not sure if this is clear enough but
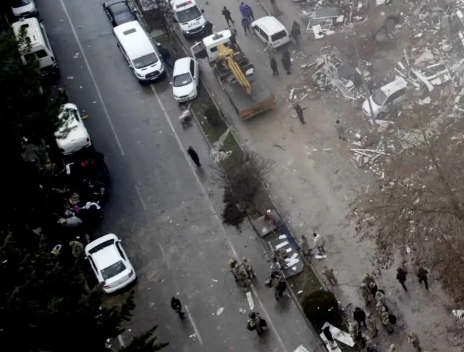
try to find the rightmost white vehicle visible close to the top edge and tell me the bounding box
[252,15,293,52]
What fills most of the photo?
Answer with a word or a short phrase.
paved ground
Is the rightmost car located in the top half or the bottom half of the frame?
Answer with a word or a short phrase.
top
